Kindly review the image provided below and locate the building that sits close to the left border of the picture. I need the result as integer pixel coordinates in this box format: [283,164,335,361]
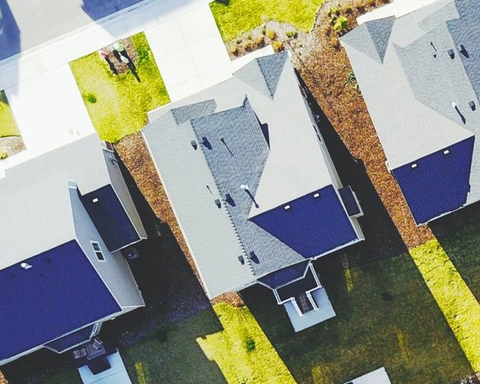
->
[0,129,146,366]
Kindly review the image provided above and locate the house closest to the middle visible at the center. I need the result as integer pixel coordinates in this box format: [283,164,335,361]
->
[140,51,364,300]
